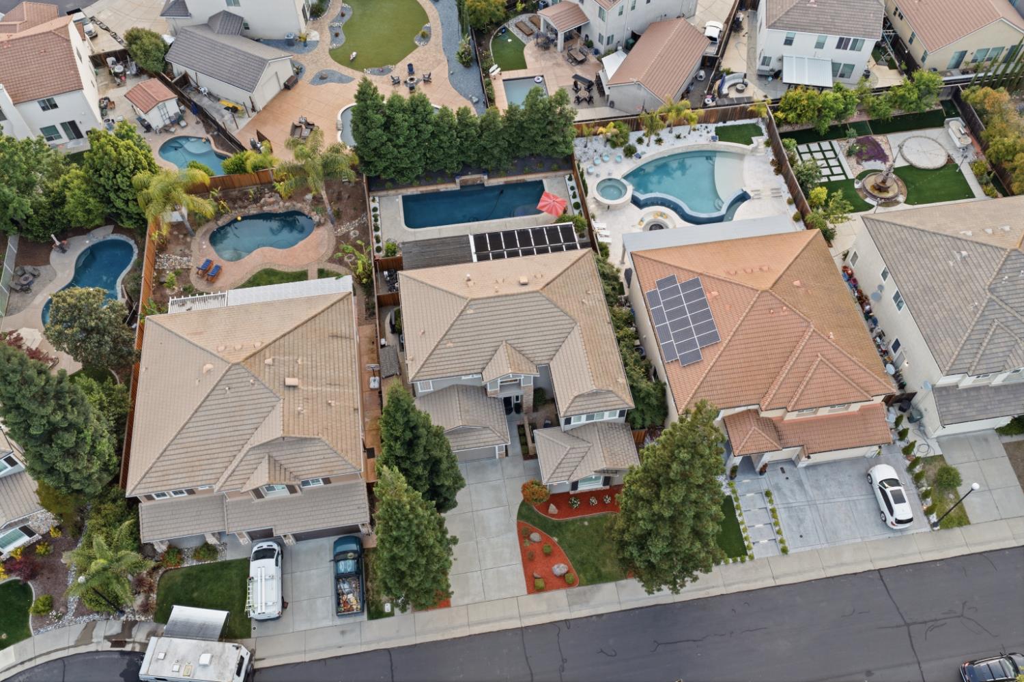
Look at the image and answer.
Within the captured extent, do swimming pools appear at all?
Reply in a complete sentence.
Yes, the picture does show a swimming pool.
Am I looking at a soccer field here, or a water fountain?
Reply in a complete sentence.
Of the two, only a water fountain appears.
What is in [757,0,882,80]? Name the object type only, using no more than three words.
house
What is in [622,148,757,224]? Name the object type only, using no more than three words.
swimming pool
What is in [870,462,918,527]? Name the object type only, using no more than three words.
car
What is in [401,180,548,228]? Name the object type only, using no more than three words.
swimming pool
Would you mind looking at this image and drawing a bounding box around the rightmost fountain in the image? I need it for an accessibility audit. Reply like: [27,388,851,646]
[865,161,905,202]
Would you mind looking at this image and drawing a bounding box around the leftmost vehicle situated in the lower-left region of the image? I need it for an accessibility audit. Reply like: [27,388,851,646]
[140,605,258,682]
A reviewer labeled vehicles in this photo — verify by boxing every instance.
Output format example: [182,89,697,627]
[69,0,98,36]
[140,605,258,682]
[327,533,365,621]
[870,462,918,527]
[239,538,282,624]
[964,650,1024,682]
